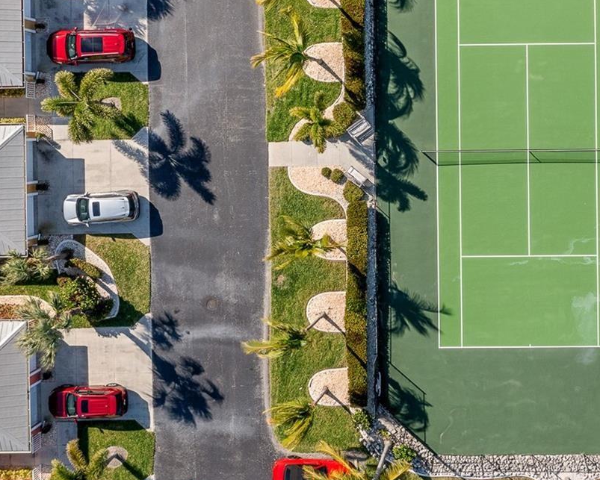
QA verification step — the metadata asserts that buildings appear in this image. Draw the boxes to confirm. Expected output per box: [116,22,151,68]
[0,126,37,258]
[0,321,41,453]
[0,0,34,89]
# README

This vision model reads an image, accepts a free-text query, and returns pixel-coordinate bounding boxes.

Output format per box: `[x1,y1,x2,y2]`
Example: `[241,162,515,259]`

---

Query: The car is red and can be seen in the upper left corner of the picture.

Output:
[49,26,135,65]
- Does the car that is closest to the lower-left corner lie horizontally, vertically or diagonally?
horizontally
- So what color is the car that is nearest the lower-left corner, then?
red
